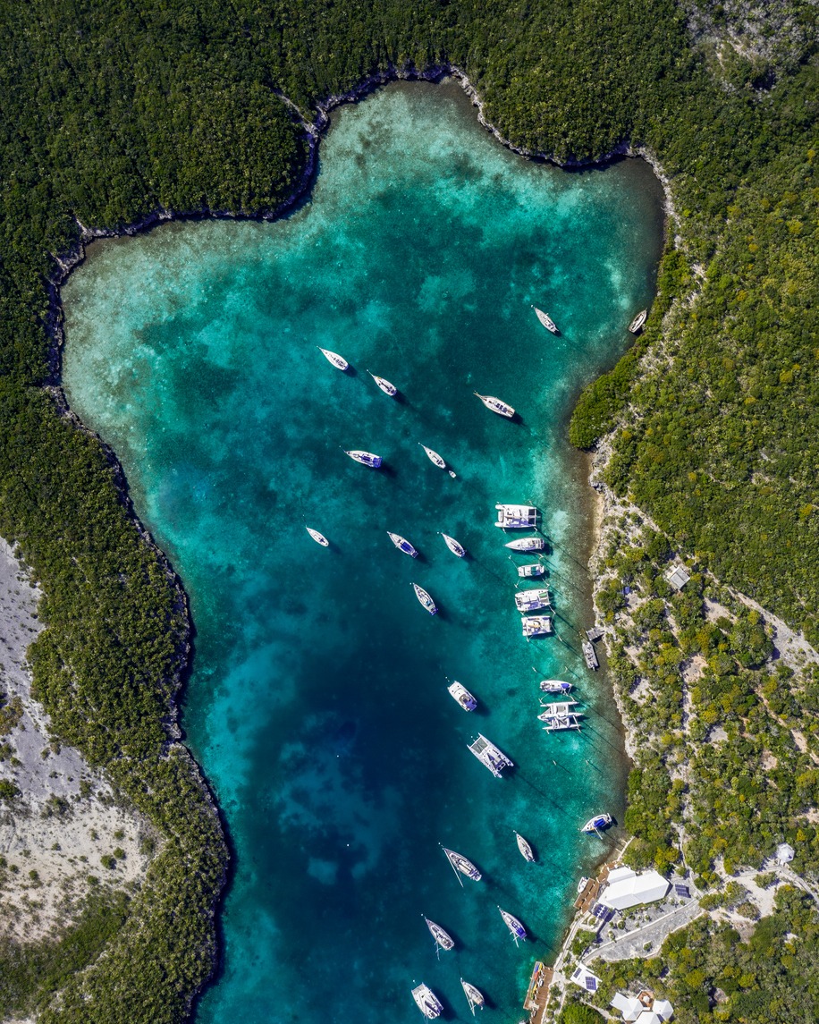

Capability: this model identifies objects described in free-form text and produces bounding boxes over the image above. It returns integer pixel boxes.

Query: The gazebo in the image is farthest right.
[777,846,796,865]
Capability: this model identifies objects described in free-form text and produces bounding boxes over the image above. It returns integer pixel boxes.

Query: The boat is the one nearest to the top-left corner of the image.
[318,347,350,371]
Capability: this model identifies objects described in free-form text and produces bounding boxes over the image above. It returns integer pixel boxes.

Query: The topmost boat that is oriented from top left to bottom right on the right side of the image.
[532,305,559,335]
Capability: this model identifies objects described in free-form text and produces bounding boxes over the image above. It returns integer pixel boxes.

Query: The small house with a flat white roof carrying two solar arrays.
[570,960,602,992]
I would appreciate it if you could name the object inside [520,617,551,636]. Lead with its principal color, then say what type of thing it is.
white boat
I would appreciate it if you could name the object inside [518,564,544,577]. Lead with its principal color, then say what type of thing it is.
white boat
